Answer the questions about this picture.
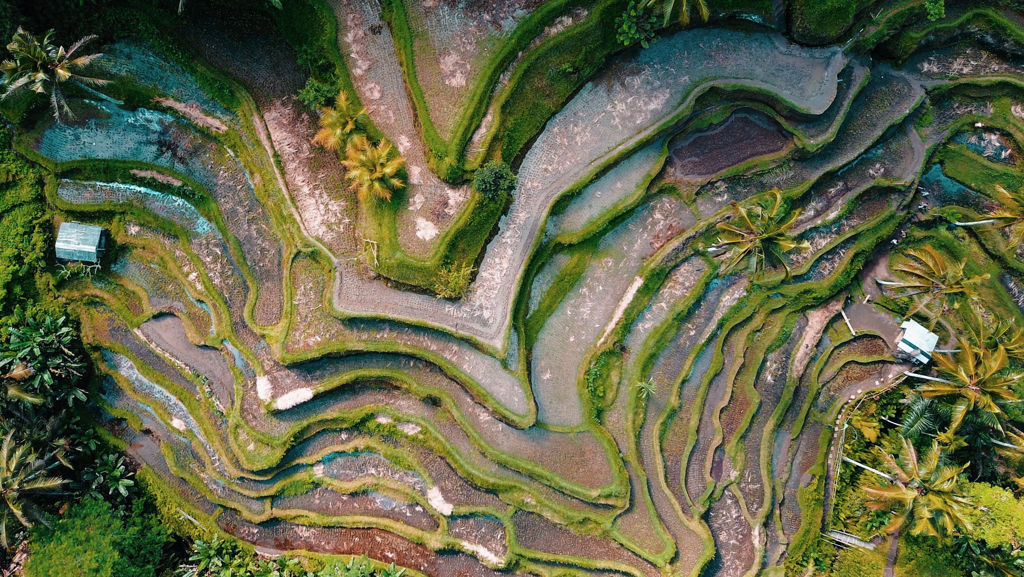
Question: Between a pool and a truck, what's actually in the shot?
pool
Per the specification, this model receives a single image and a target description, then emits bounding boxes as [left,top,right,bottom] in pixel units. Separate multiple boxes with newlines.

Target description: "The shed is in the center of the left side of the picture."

[55,222,114,262]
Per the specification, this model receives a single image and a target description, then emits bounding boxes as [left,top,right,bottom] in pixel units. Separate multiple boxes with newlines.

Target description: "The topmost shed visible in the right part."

[887,319,940,364]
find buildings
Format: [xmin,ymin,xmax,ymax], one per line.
[55,222,114,262]
[887,319,940,364]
